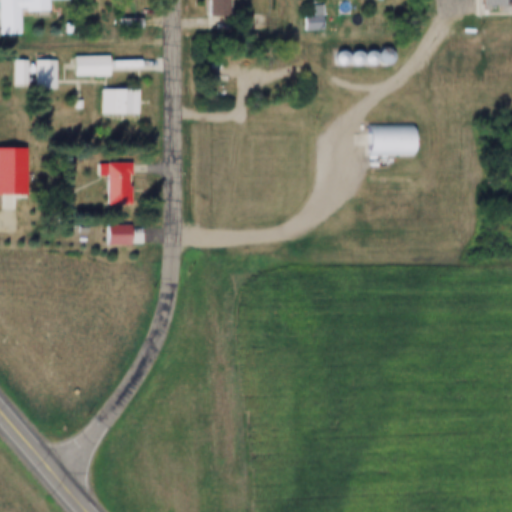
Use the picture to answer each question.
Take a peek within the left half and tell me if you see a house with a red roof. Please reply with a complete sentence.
Yes, a house with a red roof appears within the left half.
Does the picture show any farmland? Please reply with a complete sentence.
Yes, there is farmland in the image.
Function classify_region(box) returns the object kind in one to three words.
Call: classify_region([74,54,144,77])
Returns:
house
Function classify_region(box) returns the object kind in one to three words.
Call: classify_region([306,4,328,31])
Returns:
house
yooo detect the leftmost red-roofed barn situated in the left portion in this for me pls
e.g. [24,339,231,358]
[0,147,28,194]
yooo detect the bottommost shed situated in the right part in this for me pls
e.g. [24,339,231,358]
[369,124,420,157]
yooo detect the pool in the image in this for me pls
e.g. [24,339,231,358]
[338,0,352,16]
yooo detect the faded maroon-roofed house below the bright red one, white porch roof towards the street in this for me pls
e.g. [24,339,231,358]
[108,226,144,246]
